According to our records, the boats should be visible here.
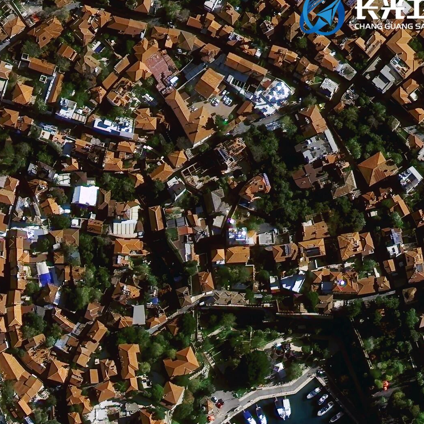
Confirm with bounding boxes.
[255,406,267,424]
[243,410,256,424]
[283,399,292,416]
[273,399,286,419]
[308,386,323,397]
[319,400,335,415]
[320,394,328,405]
[330,411,343,422]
